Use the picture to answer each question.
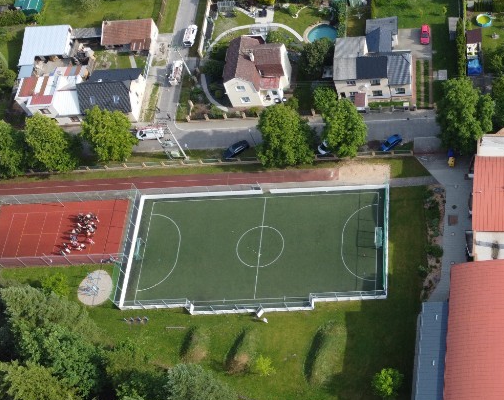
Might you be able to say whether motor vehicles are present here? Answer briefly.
Yes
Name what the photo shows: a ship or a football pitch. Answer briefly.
football pitch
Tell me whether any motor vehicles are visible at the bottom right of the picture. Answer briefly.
No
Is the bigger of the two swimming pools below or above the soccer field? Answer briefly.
above it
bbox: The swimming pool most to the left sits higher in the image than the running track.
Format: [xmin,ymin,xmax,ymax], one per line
[301,21,340,46]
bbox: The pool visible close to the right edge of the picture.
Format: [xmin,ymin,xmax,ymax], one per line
[476,13,492,29]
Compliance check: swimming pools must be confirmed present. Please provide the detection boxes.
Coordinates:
[301,21,340,46]
[476,13,492,29]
